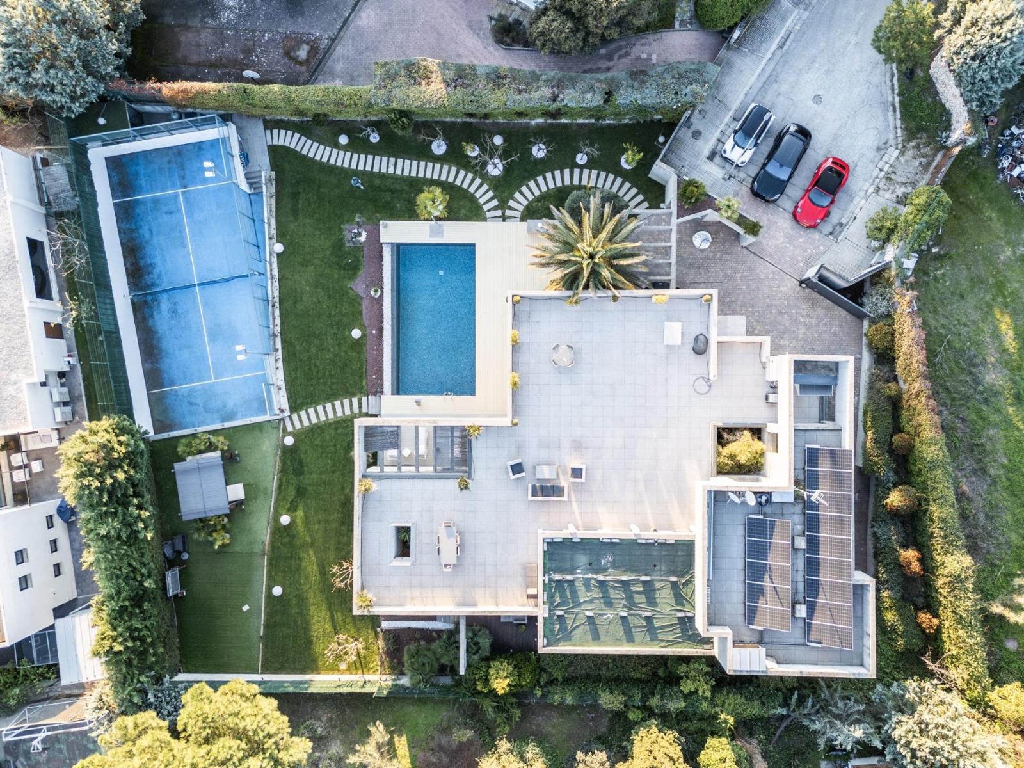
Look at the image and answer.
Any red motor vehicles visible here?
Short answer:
Yes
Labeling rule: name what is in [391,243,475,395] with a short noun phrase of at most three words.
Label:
swimming pool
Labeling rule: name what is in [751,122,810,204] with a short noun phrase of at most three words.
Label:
car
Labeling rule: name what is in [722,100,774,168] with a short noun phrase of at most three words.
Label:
car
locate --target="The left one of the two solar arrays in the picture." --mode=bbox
[744,513,791,633]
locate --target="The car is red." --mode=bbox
[793,157,847,230]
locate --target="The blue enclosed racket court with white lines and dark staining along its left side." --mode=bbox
[110,141,279,433]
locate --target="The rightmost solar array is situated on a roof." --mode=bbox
[804,443,853,651]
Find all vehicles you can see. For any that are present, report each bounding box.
[793,157,847,230]
[722,100,774,168]
[751,122,810,204]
